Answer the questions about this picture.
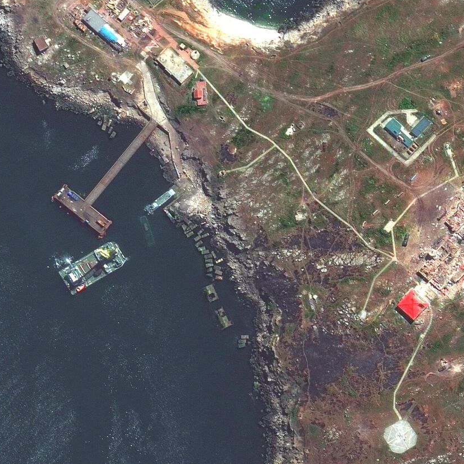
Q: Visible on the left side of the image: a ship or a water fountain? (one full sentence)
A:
There is a ship on the left side of the image.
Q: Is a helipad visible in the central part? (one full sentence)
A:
No, no helipad appears in the central part.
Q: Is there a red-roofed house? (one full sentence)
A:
Yes, you can see a red-roofed house in this photo.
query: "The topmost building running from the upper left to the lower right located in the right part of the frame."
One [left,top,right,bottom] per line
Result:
[384,117,413,149]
